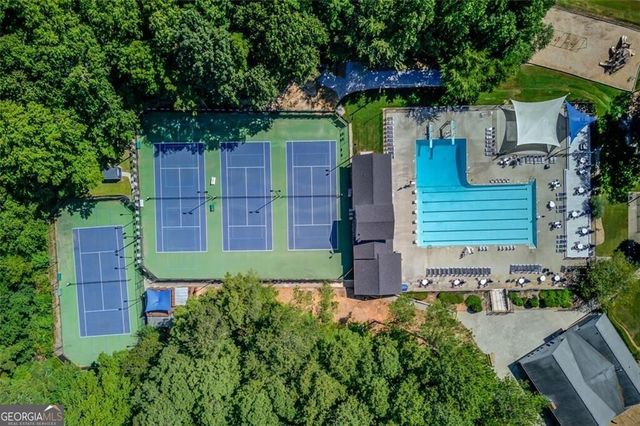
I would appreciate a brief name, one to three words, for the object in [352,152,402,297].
building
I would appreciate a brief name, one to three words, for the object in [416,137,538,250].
swimming pool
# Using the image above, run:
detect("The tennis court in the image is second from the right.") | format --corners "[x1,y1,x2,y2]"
[212,112,281,281]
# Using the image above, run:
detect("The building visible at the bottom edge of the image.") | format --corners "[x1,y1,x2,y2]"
[518,310,640,426]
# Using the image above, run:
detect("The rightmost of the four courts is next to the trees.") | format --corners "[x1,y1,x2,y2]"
[278,112,352,280]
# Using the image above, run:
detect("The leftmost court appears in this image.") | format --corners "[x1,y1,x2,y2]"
[57,199,141,367]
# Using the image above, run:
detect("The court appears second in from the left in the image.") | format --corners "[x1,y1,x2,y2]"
[137,111,214,281]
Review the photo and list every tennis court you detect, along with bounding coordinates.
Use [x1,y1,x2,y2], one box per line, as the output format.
[57,199,141,367]
[137,111,214,281]
[212,112,281,281]
[278,112,352,280]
